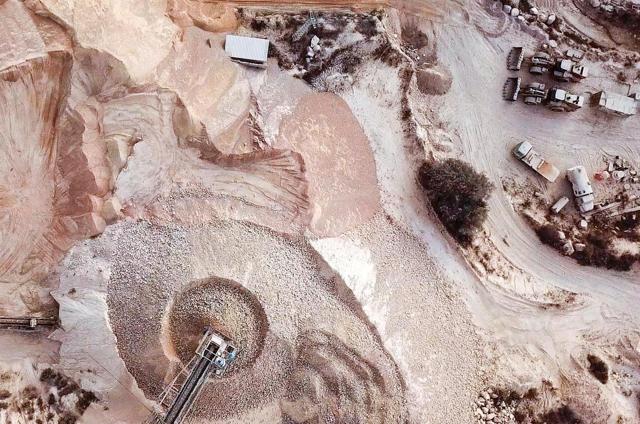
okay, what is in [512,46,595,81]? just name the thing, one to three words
work vehicle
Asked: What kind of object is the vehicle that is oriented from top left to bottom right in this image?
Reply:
truck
